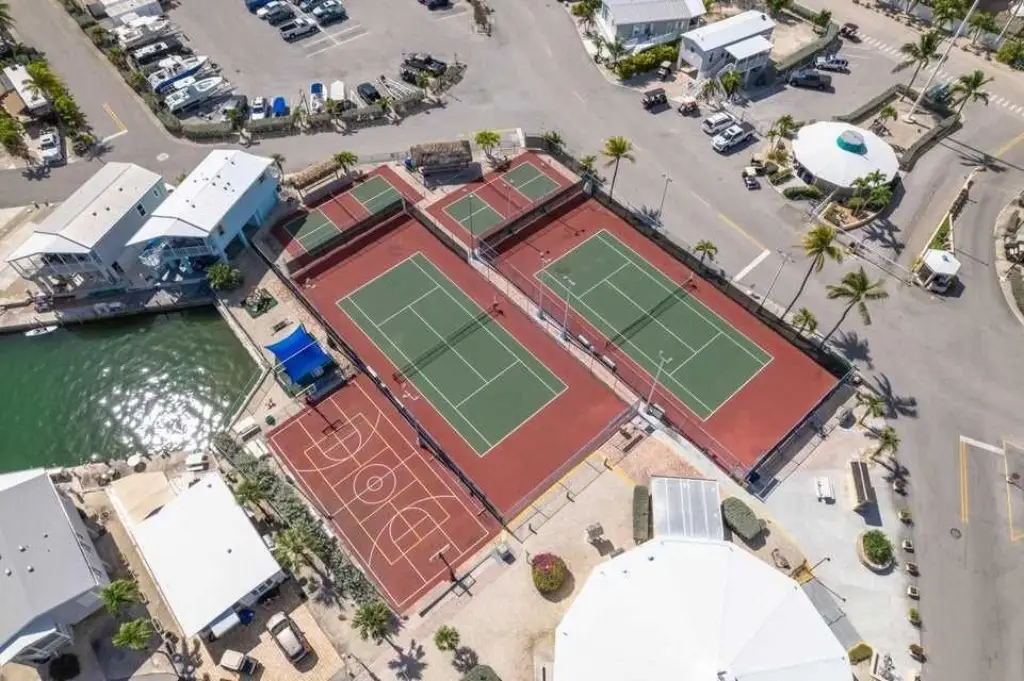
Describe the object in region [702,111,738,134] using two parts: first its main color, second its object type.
white car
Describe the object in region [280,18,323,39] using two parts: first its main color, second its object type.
gray truck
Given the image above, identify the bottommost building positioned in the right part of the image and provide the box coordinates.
[552,538,854,681]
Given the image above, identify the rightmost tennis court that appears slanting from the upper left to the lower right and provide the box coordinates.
[482,187,840,475]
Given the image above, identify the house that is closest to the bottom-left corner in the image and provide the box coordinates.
[0,452,120,681]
